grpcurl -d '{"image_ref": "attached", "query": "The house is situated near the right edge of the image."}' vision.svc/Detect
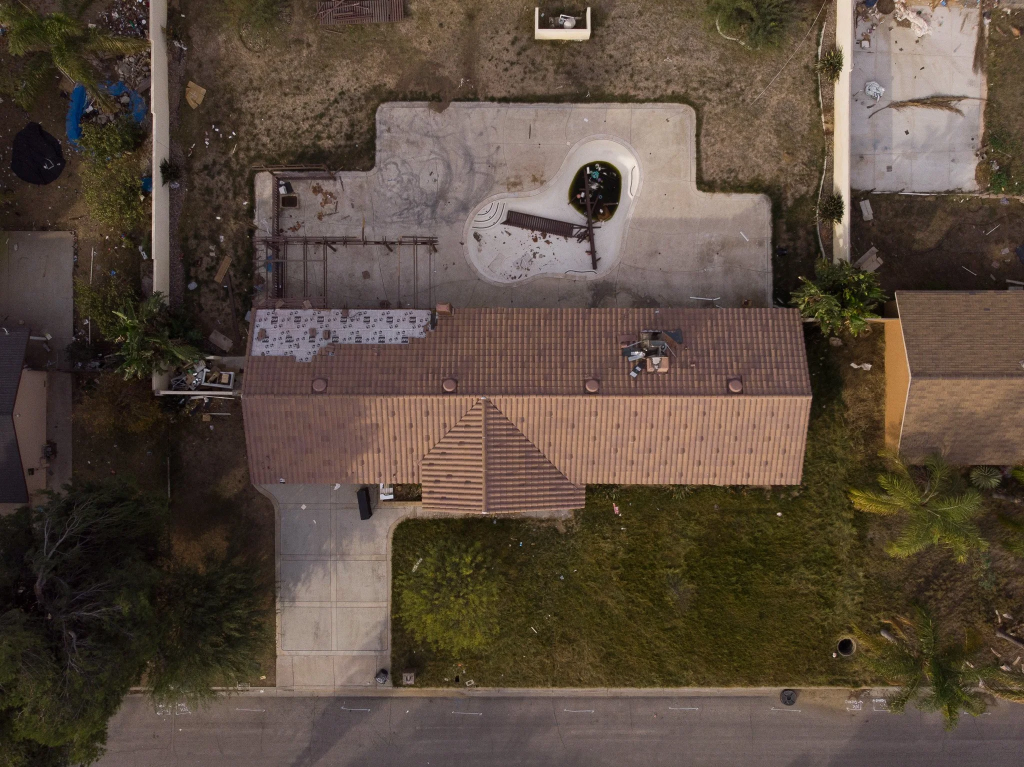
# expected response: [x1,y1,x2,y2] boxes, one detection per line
[885,290,1024,465]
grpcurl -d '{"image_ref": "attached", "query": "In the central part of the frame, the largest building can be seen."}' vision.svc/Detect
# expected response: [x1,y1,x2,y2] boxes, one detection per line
[240,303,814,518]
